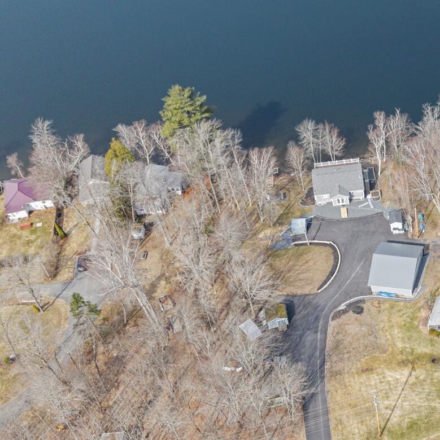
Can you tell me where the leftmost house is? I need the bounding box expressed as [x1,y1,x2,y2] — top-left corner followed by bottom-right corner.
[4,175,53,226]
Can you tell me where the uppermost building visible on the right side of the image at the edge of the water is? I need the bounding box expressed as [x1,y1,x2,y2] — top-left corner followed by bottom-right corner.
[312,161,376,207]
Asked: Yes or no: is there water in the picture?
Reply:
Yes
